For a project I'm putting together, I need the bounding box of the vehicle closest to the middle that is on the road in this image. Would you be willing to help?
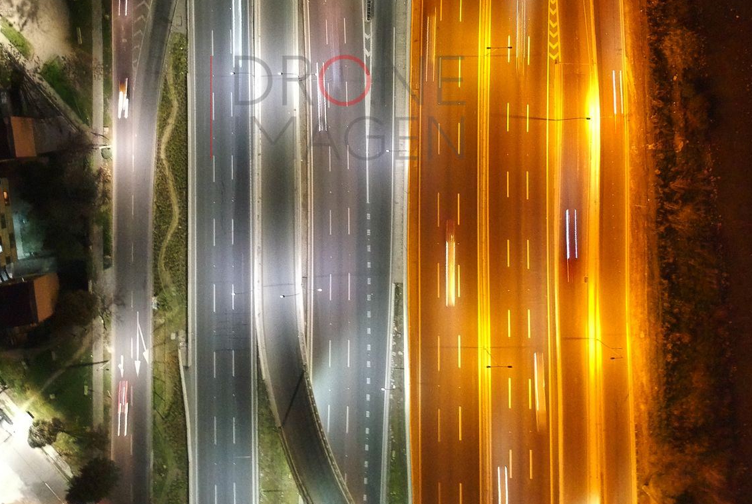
[444,261,457,287]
